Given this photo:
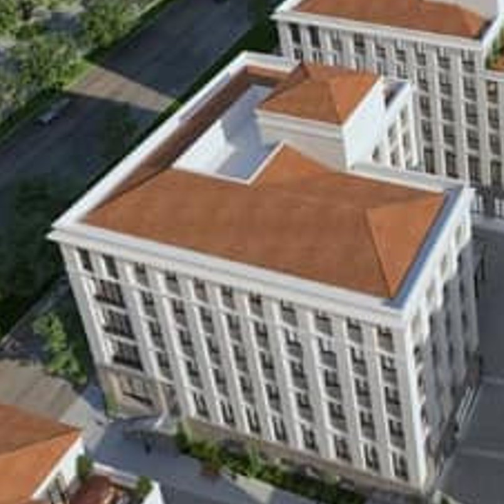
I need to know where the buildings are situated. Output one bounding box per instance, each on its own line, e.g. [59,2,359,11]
[0,421,162,504]
[48,52,478,485]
